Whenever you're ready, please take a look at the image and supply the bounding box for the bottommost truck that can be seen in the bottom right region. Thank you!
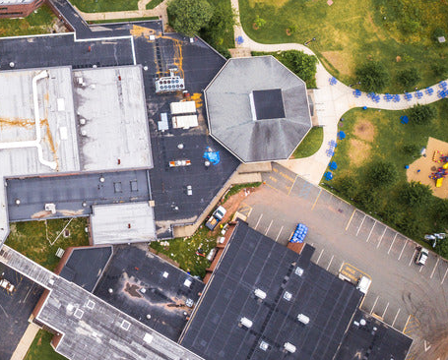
[353,269,374,296]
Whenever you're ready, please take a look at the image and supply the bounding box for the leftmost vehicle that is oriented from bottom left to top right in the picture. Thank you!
[205,204,228,231]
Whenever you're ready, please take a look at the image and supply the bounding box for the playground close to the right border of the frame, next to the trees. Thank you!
[407,137,448,194]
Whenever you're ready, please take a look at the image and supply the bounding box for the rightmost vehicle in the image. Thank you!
[416,246,433,269]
